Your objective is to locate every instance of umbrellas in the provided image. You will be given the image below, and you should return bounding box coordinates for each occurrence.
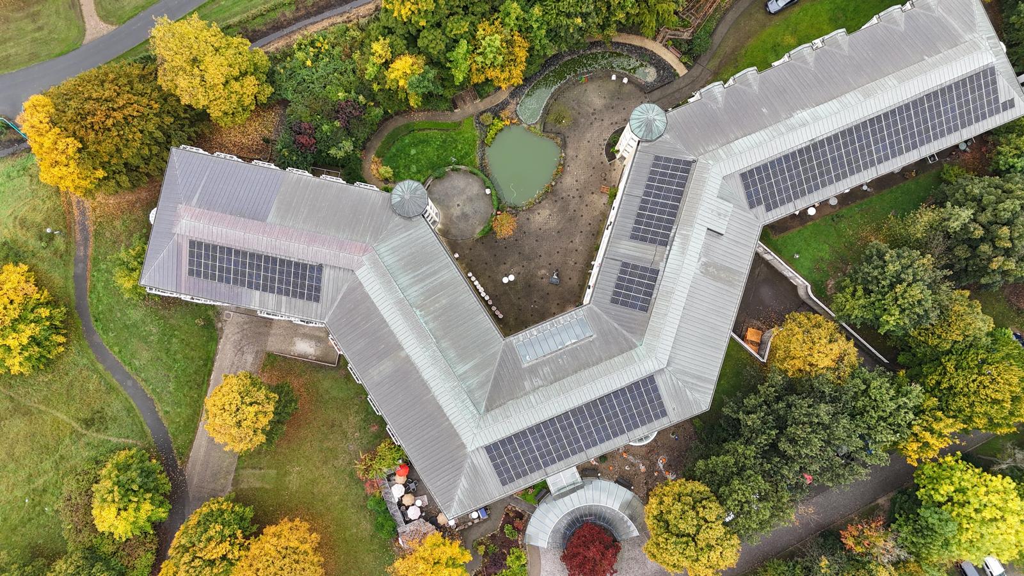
[392,482,406,497]
[402,492,416,505]
[395,474,407,483]
[395,463,410,476]
[436,512,448,524]
[408,505,421,519]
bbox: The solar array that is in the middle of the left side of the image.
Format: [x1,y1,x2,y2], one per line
[188,240,322,302]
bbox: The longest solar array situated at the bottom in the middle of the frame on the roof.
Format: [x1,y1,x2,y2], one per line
[486,375,667,486]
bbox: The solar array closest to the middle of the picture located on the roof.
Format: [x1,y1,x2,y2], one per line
[611,262,659,312]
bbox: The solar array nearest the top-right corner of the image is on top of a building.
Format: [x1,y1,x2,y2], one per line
[740,66,1015,214]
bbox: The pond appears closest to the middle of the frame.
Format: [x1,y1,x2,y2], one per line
[488,124,561,205]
